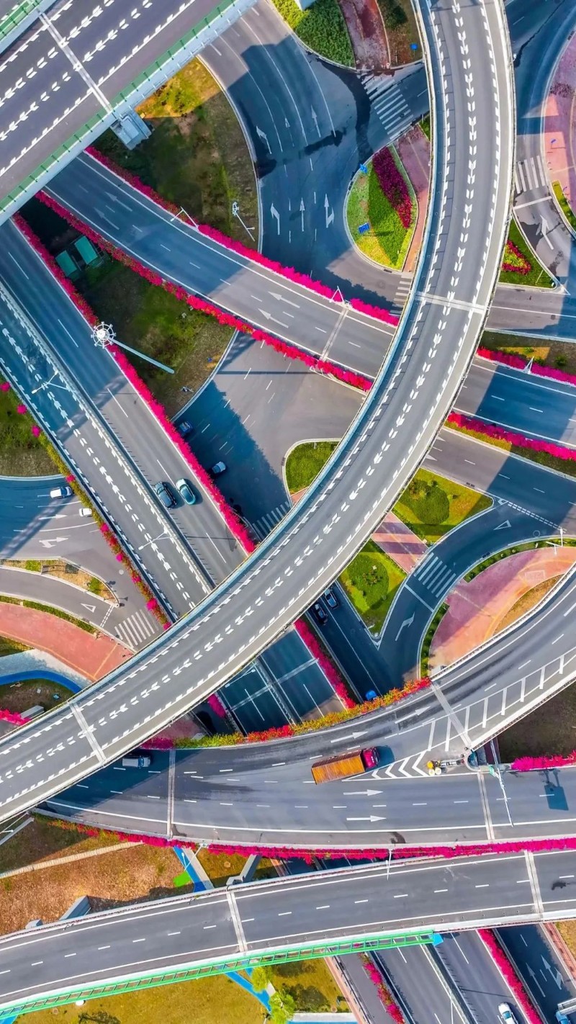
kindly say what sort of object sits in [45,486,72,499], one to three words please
vehicle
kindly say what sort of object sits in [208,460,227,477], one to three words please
car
